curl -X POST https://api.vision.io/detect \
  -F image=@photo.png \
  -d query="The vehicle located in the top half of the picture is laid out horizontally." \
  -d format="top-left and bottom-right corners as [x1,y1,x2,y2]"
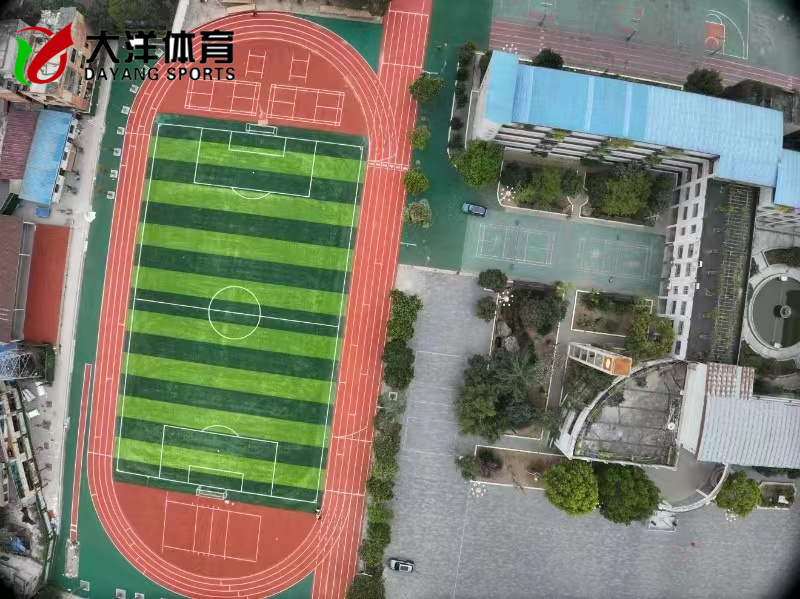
[462,201,488,216]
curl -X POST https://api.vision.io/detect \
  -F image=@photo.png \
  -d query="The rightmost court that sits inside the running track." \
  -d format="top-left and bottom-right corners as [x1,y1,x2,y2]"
[267,84,344,126]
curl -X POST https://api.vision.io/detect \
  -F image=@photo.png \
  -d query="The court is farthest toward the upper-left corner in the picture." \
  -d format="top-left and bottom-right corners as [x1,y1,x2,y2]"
[185,76,260,117]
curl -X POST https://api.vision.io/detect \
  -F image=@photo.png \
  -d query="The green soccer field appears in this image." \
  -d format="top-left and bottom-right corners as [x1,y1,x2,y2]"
[114,112,366,513]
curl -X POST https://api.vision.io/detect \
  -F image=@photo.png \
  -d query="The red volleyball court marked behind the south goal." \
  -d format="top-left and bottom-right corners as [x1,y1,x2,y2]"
[161,495,262,562]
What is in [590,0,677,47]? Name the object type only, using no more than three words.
basketball court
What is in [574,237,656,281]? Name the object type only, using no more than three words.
sports court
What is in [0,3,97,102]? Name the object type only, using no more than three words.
building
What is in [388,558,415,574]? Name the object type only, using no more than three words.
car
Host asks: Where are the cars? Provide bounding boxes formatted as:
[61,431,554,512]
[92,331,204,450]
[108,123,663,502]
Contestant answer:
[462,201,488,216]
[388,558,415,574]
